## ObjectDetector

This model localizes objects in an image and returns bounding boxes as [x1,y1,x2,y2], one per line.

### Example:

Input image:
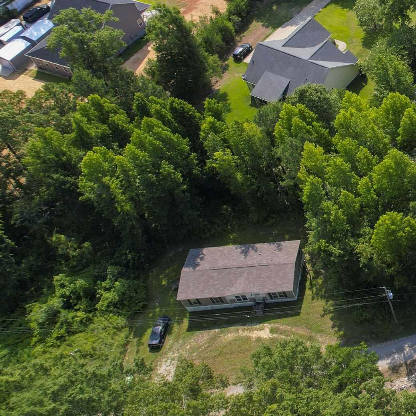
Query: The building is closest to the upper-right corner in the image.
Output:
[240,17,361,114]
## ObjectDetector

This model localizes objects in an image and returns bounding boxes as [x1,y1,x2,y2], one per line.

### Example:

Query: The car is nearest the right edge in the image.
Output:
[230,43,254,62]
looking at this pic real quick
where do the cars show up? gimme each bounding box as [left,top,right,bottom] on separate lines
[149,319,169,350]
[230,43,254,62]
[22,5,50,24]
